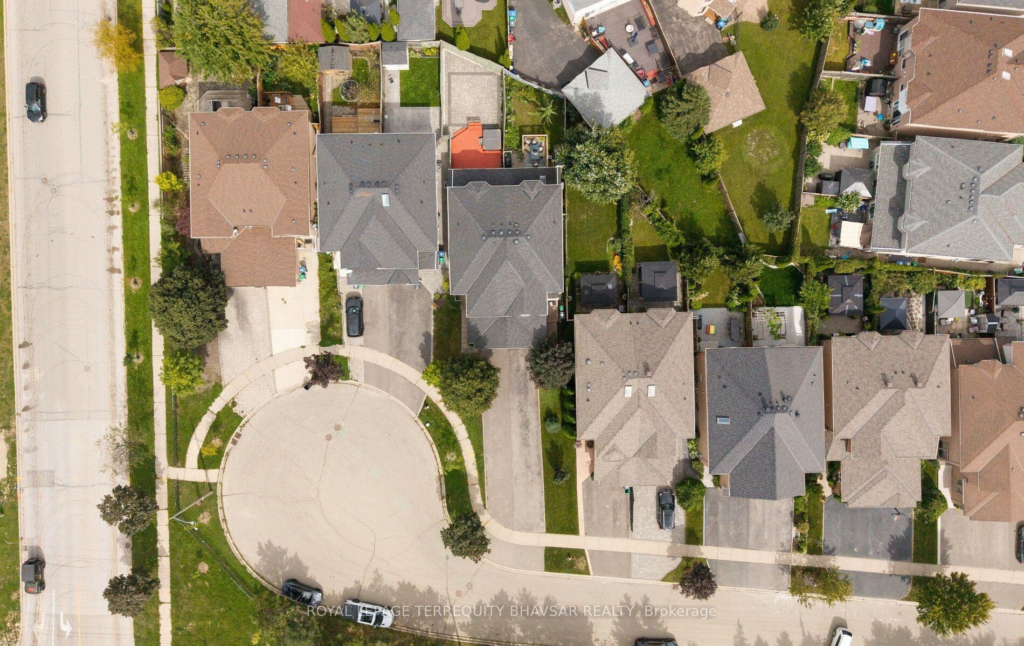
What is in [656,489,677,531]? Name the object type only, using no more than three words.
car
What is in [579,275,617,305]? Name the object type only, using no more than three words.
gazebo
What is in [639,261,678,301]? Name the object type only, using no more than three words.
gazebo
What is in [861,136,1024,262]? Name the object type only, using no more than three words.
house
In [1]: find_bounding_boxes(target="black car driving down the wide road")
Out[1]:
[24,82,50,124]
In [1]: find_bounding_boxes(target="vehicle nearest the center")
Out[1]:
[344,296,364,337]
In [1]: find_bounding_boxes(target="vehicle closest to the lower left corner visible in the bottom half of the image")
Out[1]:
[21,557,49,596]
